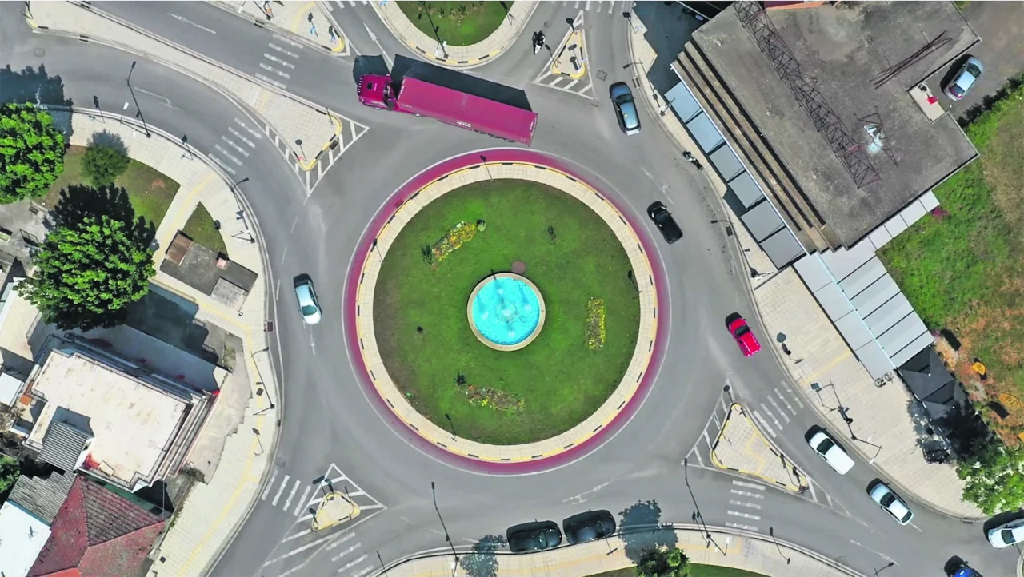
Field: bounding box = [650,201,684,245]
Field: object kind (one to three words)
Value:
car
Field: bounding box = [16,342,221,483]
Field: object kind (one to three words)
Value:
building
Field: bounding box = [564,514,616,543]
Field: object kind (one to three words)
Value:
car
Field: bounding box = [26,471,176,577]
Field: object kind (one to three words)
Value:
house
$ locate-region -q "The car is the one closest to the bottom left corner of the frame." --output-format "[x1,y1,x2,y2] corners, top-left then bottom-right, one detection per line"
[293,278,321,325]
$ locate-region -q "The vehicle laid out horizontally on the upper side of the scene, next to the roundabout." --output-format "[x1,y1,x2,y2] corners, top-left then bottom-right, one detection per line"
[358,72,537,146]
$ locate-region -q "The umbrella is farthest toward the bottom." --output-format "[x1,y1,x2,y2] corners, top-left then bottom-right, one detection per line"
[923,380,981,436]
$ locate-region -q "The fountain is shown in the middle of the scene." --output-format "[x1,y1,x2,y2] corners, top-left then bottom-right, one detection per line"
[467,273,545,351]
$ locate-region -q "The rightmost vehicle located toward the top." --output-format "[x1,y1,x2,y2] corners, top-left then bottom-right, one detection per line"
[945,58,985,101]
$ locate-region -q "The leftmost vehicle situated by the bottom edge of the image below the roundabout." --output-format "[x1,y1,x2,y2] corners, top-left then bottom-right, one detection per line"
[510,526,560,552]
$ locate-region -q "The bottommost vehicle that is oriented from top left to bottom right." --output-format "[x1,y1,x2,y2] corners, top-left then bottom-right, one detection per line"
[869,483,915,526]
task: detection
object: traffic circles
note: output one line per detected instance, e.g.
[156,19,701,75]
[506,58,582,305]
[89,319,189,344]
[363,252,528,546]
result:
[342,148,670,476]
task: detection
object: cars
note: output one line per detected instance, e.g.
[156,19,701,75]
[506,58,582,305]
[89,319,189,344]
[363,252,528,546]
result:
[293,278,321,325]
[650,201,684,245]
[869,483,915,526]
[986,515,1024,546]
[952,565,980,577]
[510,526,560,552]
[610,85,641,136]
[564,514,616,543]
[666,0,706,28]
[945,58,985,101]
[729,316,763,358]
[809,431,854,475]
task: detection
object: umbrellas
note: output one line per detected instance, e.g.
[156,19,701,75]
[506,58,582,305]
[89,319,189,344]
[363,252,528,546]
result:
[898,346,954,401]
[923,380,981,436]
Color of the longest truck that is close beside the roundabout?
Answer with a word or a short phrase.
pink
